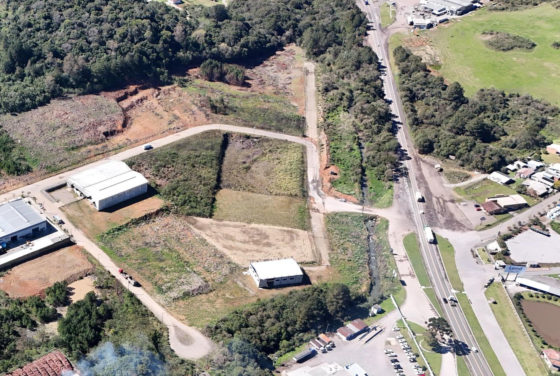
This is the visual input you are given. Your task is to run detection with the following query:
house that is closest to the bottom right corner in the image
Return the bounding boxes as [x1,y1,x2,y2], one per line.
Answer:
[541,347,560,369]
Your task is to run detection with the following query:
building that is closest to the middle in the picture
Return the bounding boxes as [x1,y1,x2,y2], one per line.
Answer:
[249,257,303,288]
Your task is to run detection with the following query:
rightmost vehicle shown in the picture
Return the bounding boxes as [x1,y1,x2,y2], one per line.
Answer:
[530,224,553,237]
